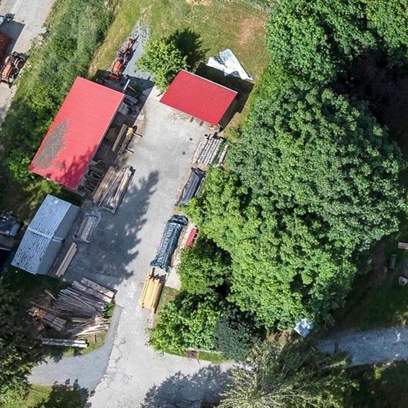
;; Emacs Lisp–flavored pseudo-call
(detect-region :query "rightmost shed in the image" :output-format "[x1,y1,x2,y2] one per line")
[159,70,242,125]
